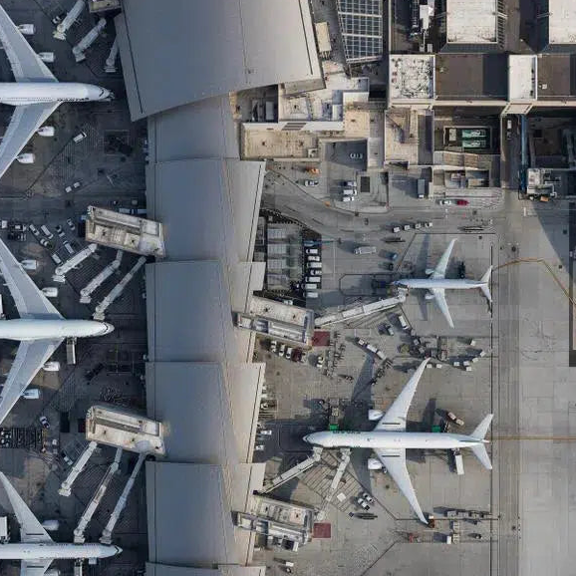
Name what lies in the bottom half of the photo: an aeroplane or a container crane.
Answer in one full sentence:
There is an aeroplane in the bottom half of the photo.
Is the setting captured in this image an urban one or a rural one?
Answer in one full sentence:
It looks urban.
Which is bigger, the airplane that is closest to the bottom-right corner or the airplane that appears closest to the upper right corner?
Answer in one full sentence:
The airplane that is closest to the bottom-right corner is larger than the airplane that appears closest to the upper right corner.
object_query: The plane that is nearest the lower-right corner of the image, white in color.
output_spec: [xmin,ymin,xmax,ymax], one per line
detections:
[305,358,494,523]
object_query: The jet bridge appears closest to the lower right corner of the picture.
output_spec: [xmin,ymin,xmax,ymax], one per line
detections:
[317,446,353,526]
